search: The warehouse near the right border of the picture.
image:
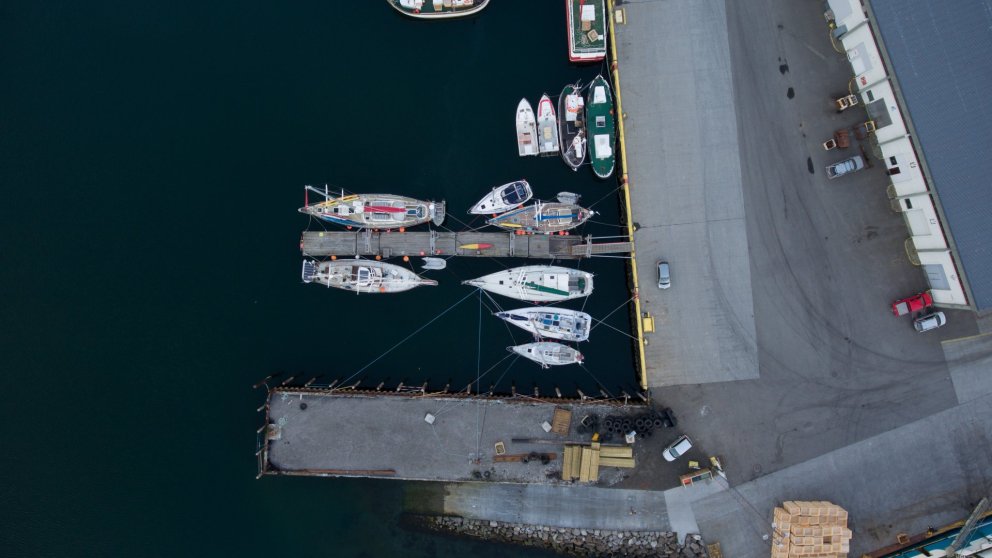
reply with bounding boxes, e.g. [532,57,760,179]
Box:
[830,0,992,311]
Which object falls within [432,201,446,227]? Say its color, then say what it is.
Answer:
gray boat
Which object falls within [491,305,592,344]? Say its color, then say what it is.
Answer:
white boat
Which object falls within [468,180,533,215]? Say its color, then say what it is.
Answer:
white boat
